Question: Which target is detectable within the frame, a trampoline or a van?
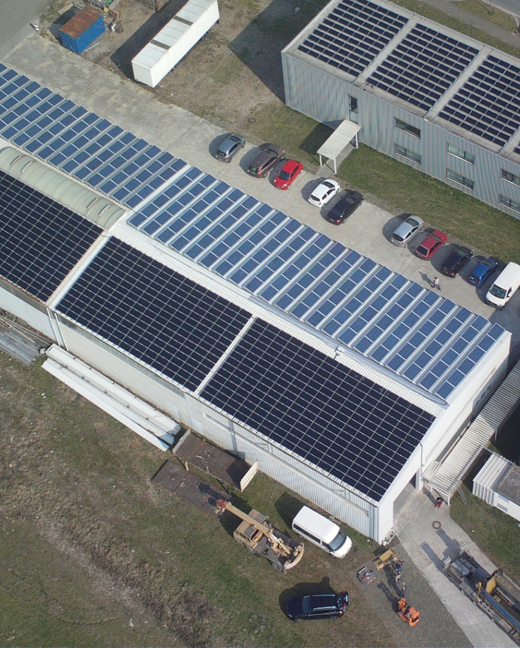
van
